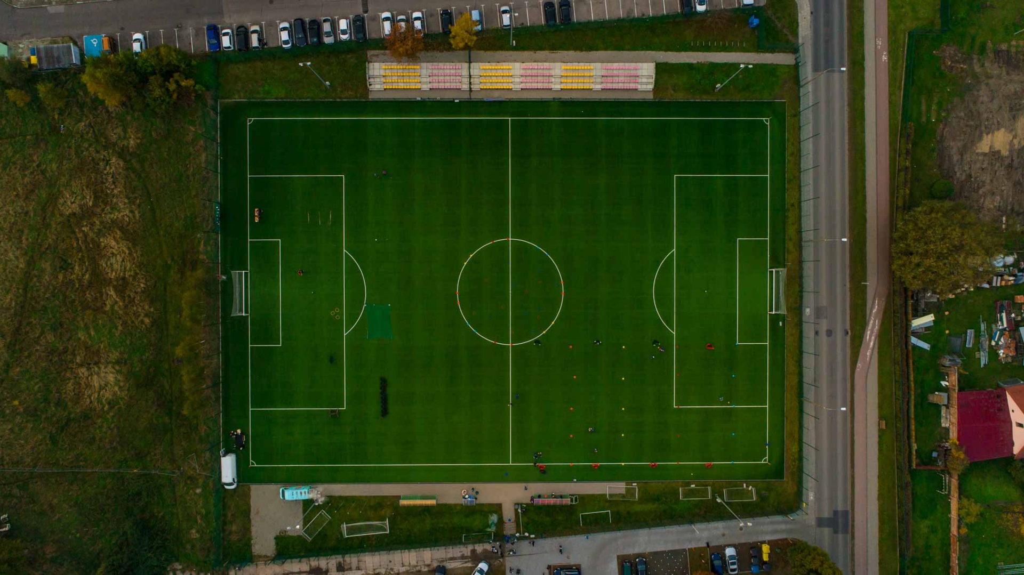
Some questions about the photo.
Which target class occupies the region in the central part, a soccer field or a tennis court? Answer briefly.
soccer field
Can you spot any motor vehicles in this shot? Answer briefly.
Yes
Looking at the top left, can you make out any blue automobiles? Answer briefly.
Yes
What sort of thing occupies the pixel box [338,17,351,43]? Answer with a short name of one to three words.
vehicle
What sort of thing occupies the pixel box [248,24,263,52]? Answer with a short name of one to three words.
car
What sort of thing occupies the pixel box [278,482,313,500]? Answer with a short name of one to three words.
vehicle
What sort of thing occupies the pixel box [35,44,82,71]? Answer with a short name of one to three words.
shed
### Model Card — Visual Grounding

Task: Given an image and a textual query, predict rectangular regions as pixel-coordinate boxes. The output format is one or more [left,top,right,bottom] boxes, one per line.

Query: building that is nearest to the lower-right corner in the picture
[949,378,1024,462]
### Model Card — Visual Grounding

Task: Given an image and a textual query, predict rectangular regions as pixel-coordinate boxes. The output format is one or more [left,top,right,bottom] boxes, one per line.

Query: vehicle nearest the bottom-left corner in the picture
[220,448,239,486]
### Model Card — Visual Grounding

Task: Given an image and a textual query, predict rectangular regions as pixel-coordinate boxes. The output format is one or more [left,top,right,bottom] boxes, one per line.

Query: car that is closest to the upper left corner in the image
[101,34,115,57]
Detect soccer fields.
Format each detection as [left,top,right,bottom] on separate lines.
[220,100,785,484]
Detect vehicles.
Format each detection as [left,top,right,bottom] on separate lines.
[500,6,512,30]
[131,32,147,56]
[471,8,483,33]
[380,11,393,39]
[338,17,351,43]
[543,1,556,28]
[248,24,263,52]
[278,482,313,500]
[220,29,235,52]
[681,0,694,18]
[293,17,309,48]
[206,24,222,52]
[710,550,724,575]
[434,564,446,575]
[220,448,239,486]
[352,14,367,43]
[724,545,738,575]
[101,34,115,57]
[695,0,708,15]
[411,11,425,38]
[308,19,322,46]
[635,556,648,575]
[558,0,571,25]
[278,21,293,50]
[322,16,336,46]
[234,24,250,53]
[440,8,452,35]
[472,557,490,575]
